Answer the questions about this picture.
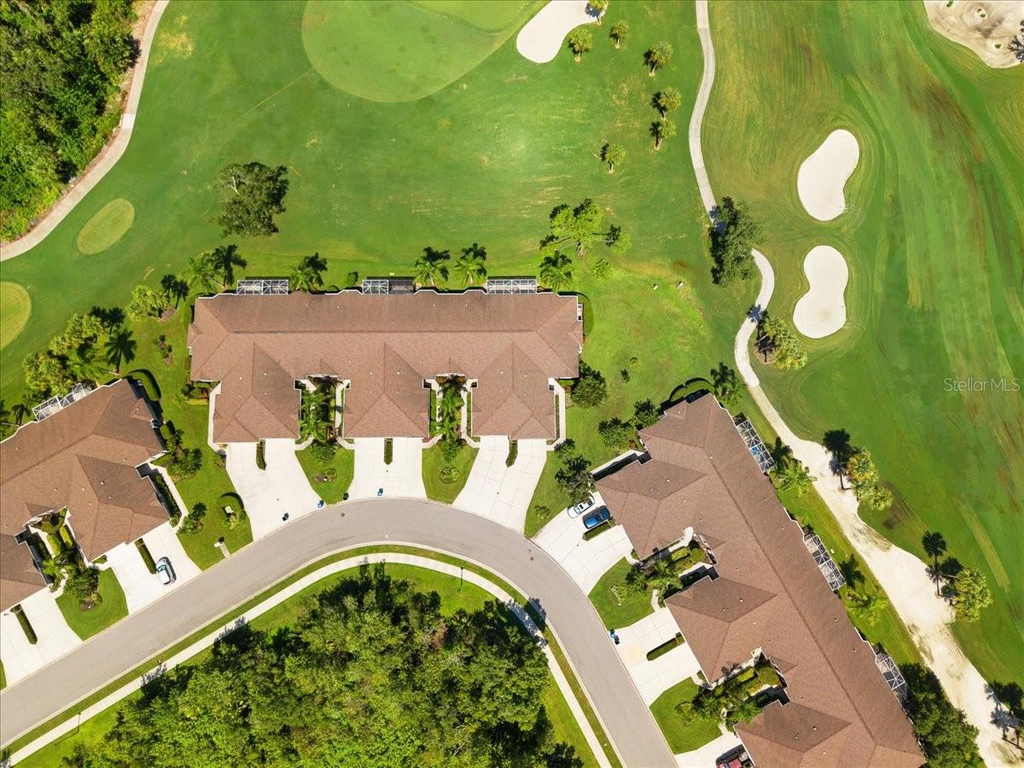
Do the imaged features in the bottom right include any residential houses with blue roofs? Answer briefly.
No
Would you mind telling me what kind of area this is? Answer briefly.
golf course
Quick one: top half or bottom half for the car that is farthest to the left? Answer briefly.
bottom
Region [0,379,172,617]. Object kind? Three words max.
house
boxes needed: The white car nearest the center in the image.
[567,493,597,517]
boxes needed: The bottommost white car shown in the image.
[155,556,175,586]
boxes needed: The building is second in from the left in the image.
[188,290,586,444]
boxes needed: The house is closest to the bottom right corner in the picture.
[594,390,926,768]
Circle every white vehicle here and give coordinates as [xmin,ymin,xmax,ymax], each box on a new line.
[155,556,175,586]
[567,493,597,517]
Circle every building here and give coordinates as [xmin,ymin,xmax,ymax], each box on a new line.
[0,379,172,617]
[594,390,926,768]
[188,290,586,444]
